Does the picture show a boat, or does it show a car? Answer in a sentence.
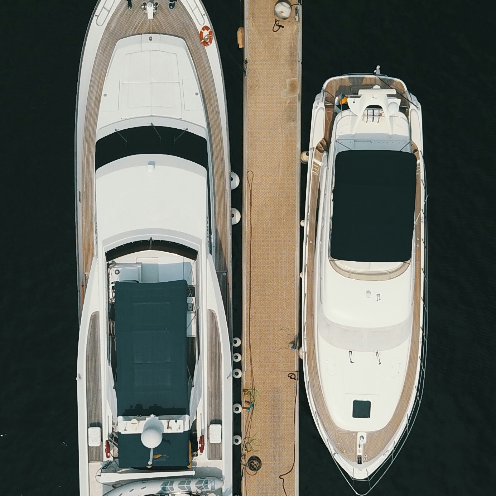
There is a boat in the scene.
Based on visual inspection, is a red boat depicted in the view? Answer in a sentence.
No, no red boat is visible in the view.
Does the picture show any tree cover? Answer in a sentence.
No, there's no tree cover in this view.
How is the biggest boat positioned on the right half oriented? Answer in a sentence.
Seen from above, the biggest boat positioned on the right half lies up and down.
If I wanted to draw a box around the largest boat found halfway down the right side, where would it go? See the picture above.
[300,64,428,495]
